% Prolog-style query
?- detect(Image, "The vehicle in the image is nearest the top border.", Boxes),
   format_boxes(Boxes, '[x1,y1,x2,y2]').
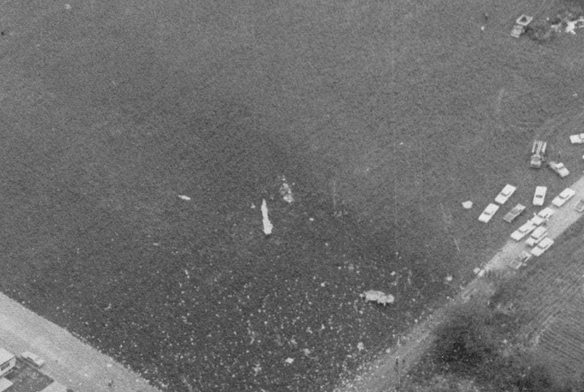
[512,14,531,36]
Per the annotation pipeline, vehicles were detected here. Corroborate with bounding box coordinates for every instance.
[533,187,546,207]
[570,134,584,144]
[531,208,556,227]
[548,157,571,177]
[551,189,576,207]
[532,140,546,169]
[18,350,47,369]
[477,203,501,223]
[512,14,531,36]
[511,222,536,242]
[502,203,526,223]
[524,225,549,246]
[530,237,555,257]
[495,185,516,204]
